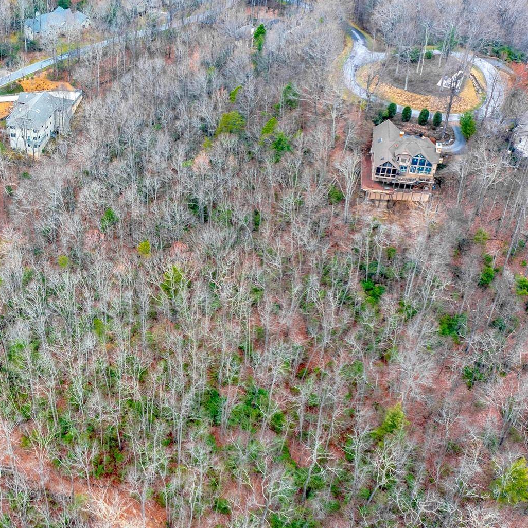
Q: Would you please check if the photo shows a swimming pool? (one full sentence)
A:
No, there isn't any swimming pool down there.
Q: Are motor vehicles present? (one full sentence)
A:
No, this view has no motor vehicle in it.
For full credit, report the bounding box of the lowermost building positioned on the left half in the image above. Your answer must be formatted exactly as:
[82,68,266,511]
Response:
[4,87,85,156]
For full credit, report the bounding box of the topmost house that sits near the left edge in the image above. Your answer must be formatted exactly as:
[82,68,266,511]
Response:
[21,11,89,43]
